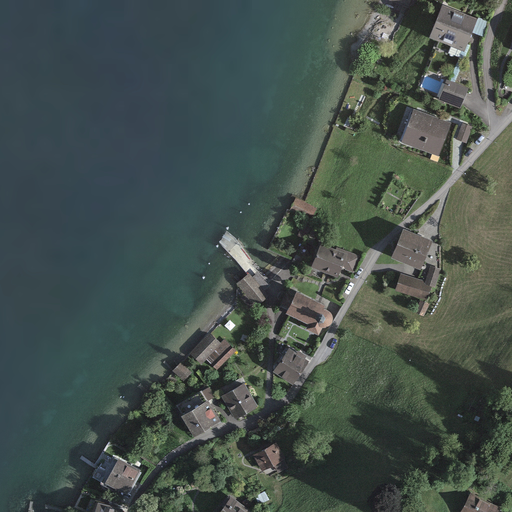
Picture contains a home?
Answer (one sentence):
Yes, you can see a home in this photo.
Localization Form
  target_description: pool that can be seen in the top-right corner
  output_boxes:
[421,76,442,94]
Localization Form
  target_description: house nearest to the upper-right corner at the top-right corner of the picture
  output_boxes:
[429,3,487,58]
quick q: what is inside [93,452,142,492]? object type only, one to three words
house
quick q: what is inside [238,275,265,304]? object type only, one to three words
building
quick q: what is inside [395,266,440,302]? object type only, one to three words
barn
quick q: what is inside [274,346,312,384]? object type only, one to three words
house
